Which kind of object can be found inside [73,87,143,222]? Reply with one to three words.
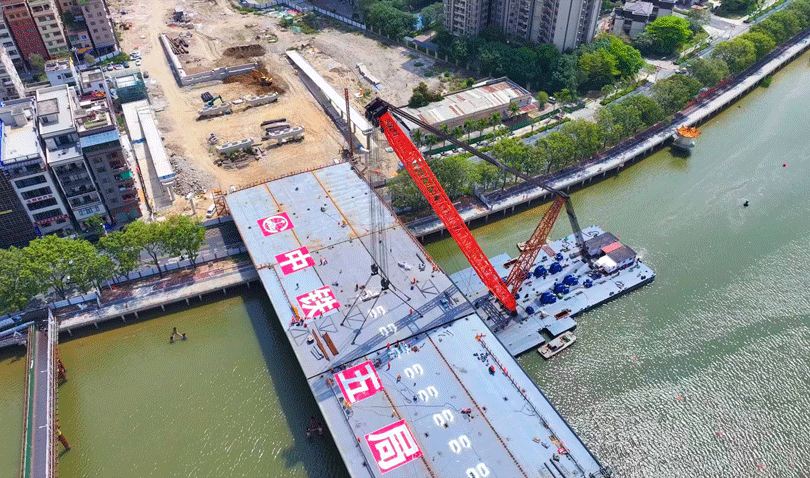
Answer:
house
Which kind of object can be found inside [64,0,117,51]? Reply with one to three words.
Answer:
building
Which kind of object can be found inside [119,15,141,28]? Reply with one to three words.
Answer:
vehicle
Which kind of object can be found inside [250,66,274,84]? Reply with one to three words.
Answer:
work vehicle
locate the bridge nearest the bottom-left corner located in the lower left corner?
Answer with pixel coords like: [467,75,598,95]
[19,309,81,478]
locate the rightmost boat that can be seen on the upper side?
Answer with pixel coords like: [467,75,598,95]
[670,131,701,154]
